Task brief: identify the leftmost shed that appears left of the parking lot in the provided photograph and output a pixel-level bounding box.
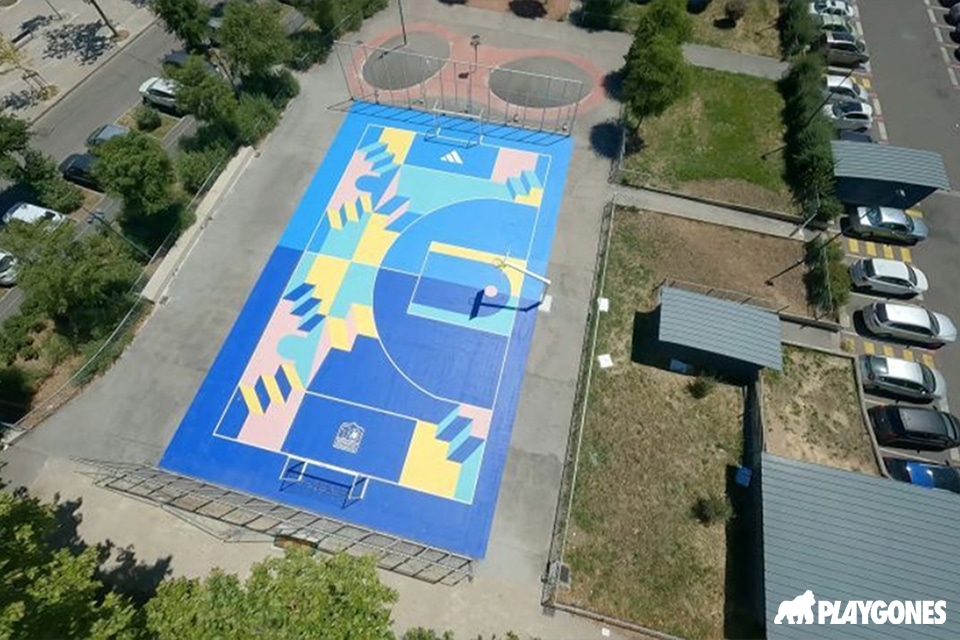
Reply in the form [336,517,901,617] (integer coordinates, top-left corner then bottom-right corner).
[649,287,782,375]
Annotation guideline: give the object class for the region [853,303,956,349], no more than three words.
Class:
car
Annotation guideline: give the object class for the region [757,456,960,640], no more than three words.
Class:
shed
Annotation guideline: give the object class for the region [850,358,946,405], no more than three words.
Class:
car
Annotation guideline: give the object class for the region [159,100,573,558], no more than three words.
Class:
sports court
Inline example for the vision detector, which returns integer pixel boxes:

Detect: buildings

[818,138,952,213]
[757,456,960,640]
[649,287,782,375]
